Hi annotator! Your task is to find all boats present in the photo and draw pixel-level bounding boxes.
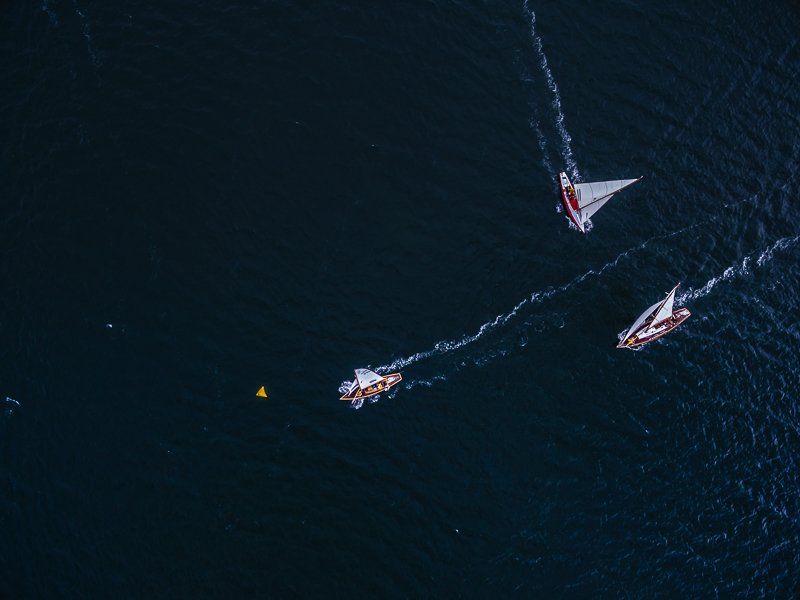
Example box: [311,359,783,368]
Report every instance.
[616,282,691,348]
[340,369,403,404]
[559,172,643,233]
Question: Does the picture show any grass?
No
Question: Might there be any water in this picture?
Yes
